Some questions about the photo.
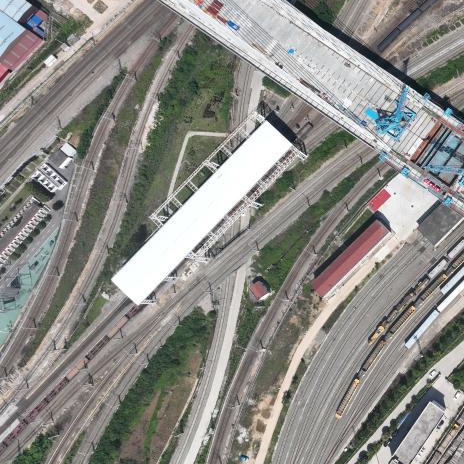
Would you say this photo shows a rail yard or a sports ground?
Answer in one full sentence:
This looks like a rail yard.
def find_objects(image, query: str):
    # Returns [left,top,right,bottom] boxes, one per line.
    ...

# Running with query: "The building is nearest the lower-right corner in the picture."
[389,396,447,464]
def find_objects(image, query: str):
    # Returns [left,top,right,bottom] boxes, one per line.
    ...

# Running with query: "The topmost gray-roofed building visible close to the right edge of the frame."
[416,199,462,245]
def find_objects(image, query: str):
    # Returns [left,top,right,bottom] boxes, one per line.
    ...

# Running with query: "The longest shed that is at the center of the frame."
[110,109,312,317]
